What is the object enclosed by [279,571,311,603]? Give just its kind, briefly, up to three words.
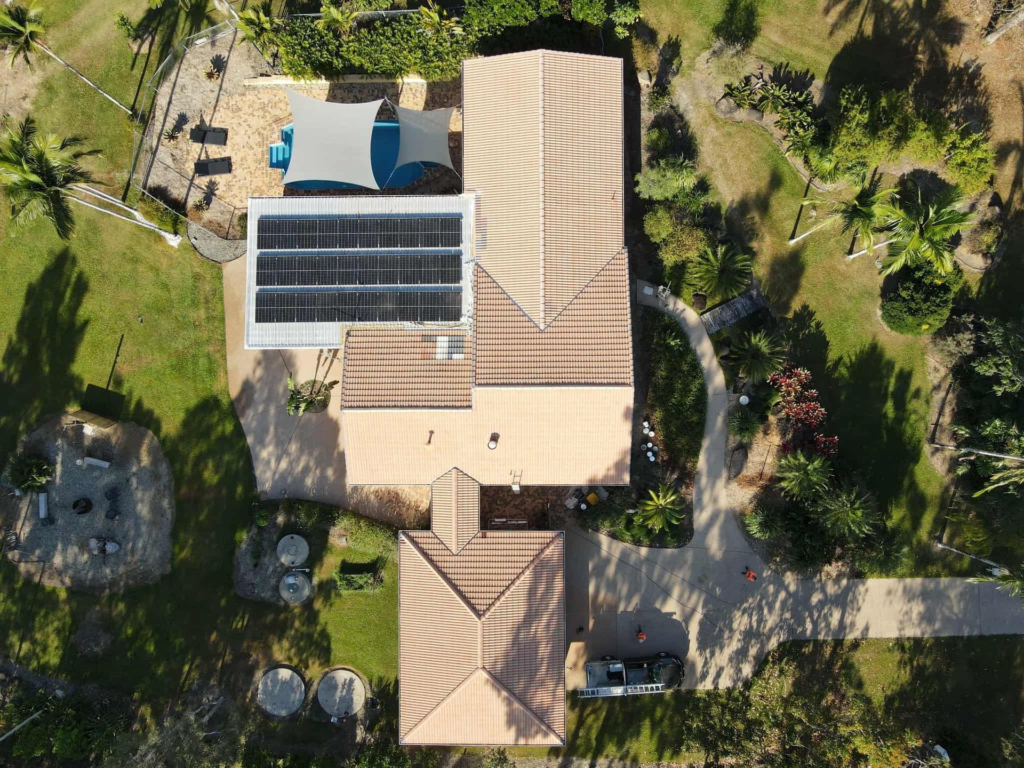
water tank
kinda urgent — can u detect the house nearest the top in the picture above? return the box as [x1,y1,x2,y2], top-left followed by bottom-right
[339,47,637,558]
